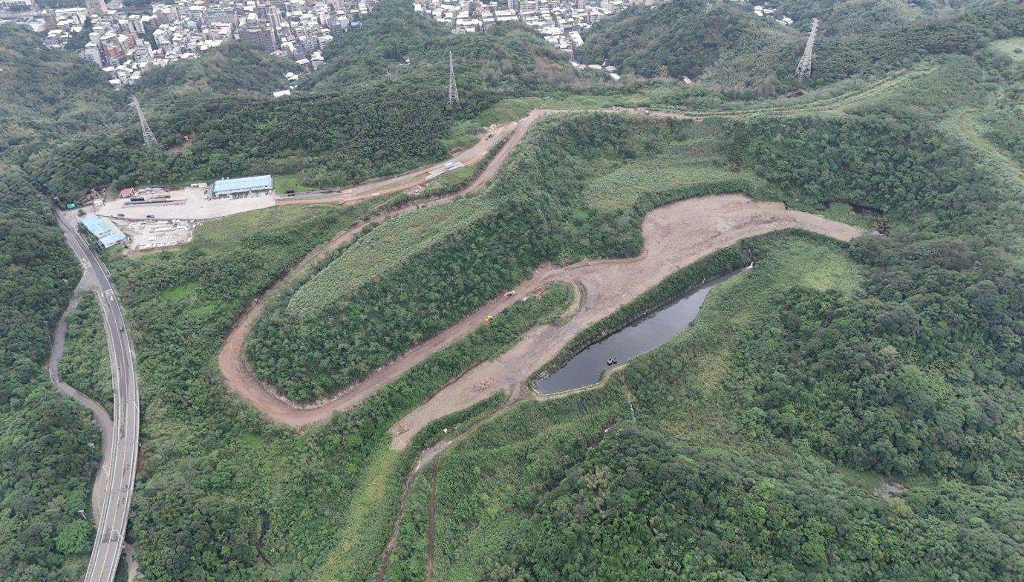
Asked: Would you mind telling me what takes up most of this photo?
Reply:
trees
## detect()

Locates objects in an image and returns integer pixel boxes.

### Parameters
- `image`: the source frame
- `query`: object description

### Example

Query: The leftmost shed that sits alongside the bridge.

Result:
[79,212,128,249]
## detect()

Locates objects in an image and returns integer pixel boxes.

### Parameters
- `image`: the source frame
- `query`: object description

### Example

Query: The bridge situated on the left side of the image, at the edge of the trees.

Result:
[79,241,144,582]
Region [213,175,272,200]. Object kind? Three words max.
shed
